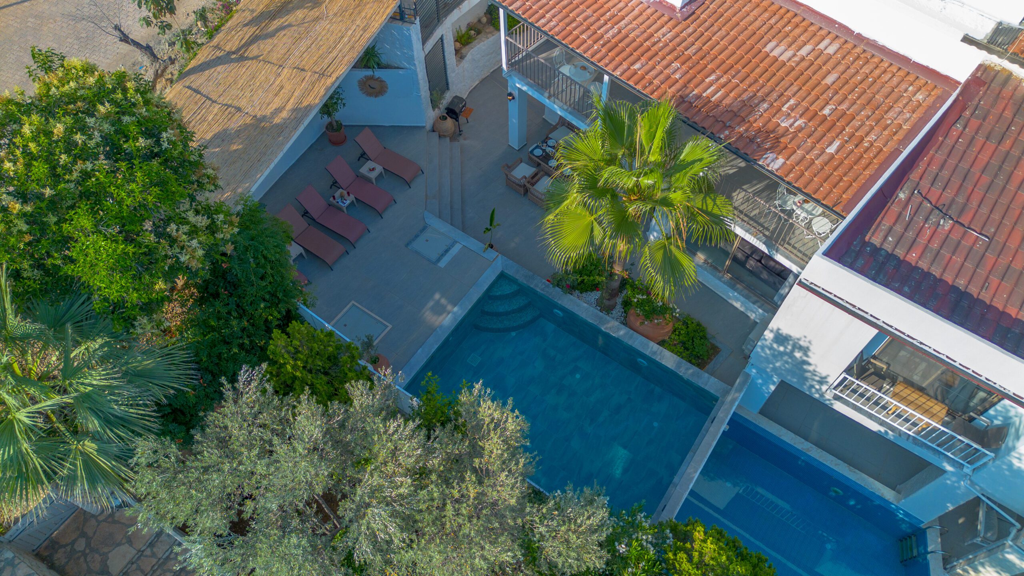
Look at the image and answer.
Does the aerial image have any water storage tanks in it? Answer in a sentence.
No, there isn't any water storage tank down there.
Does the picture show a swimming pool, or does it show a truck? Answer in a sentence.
Of the two, only a swimming pool appears.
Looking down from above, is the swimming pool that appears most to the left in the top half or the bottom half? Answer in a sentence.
The swimming pool that appears most to the left sits in the bottom half of the picture.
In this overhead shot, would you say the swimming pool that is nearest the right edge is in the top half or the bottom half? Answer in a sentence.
You can find the swimming pool that is nearest the right edge in the bottom half.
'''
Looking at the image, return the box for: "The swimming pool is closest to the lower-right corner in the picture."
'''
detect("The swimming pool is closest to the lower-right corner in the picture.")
[651,409,947,576]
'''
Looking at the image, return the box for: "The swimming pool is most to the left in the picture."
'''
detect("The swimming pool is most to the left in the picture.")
[401,257,733,539]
